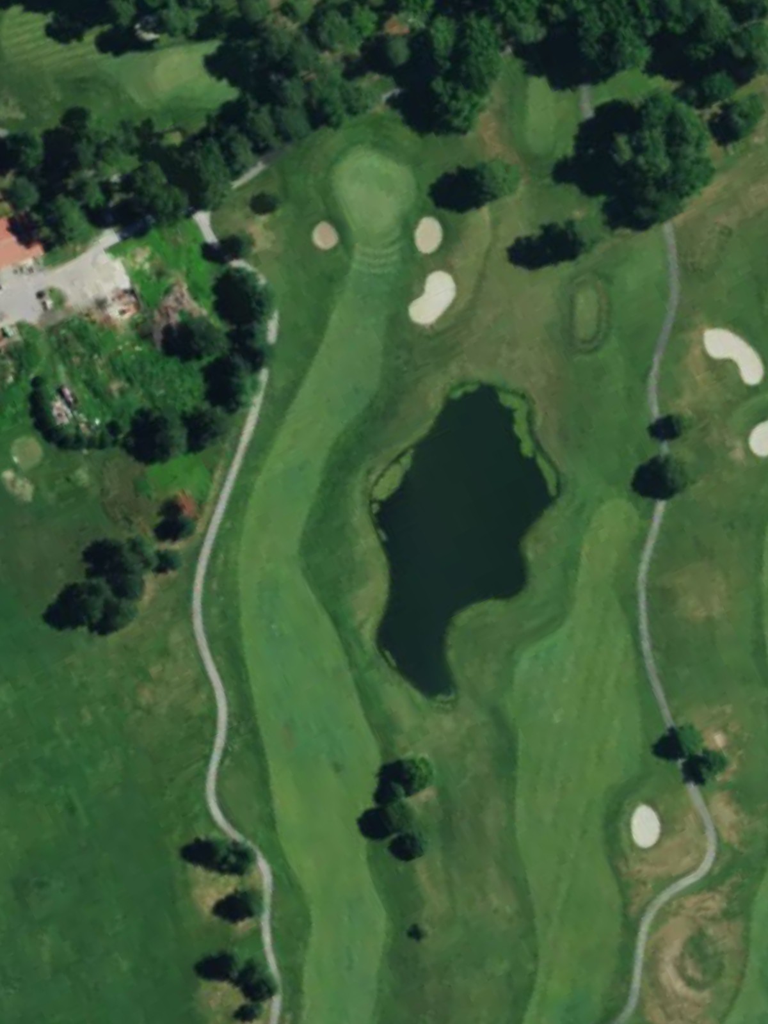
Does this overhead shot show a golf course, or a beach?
golf course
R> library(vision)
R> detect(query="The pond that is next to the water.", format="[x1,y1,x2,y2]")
[372,384,558,698]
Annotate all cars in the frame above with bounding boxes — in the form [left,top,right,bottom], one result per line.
[61,387,73,401]
[45,297,53,309]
